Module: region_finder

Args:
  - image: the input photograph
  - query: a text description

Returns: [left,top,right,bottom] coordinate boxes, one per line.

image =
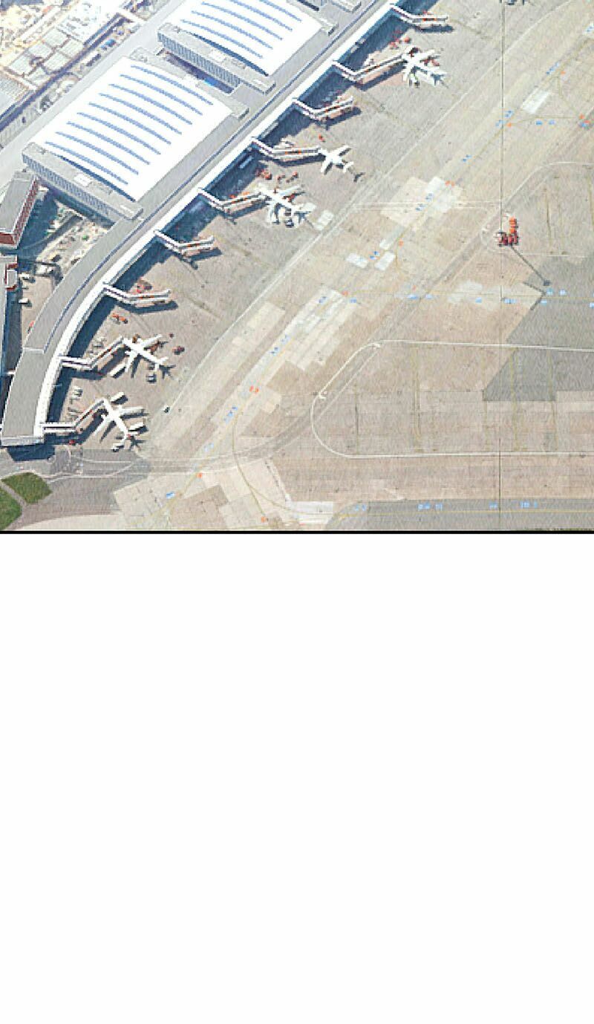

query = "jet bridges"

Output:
[293,99,355,125]
[63,337,126,372]
[391,7,449,31]
[334,56,405,84]
[156,233,216,258]
[199,193,265,216]
[253,141,321,164]
[104,287,172,308]
[44,399,108,438]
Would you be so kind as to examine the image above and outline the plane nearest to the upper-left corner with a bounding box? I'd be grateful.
[258,187,305,220]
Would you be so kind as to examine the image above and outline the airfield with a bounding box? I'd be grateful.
[0,0,594,531]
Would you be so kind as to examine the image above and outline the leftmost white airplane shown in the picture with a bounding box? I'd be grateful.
[95,399,145,440]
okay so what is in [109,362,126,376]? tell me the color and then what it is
white vehicle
